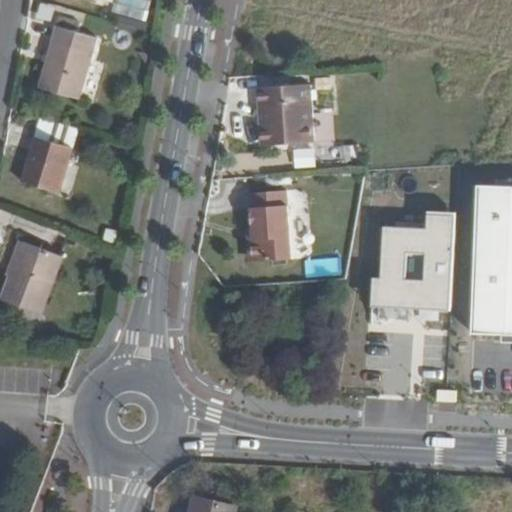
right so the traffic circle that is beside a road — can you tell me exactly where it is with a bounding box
[74,339,209,486]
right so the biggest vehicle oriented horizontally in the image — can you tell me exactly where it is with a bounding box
[426,436,459,448]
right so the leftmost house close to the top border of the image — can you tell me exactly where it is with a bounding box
[38,26,96,99]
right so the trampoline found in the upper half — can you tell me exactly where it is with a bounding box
[400,177,417,193]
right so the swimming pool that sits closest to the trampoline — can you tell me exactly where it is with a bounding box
[304,252,343,278]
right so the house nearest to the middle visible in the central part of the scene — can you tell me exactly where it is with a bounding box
[248,190,292,262]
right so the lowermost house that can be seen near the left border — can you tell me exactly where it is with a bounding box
[0,240,64,310]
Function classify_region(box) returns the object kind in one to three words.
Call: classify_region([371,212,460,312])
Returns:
building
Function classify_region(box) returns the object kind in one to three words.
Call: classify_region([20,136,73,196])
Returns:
house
